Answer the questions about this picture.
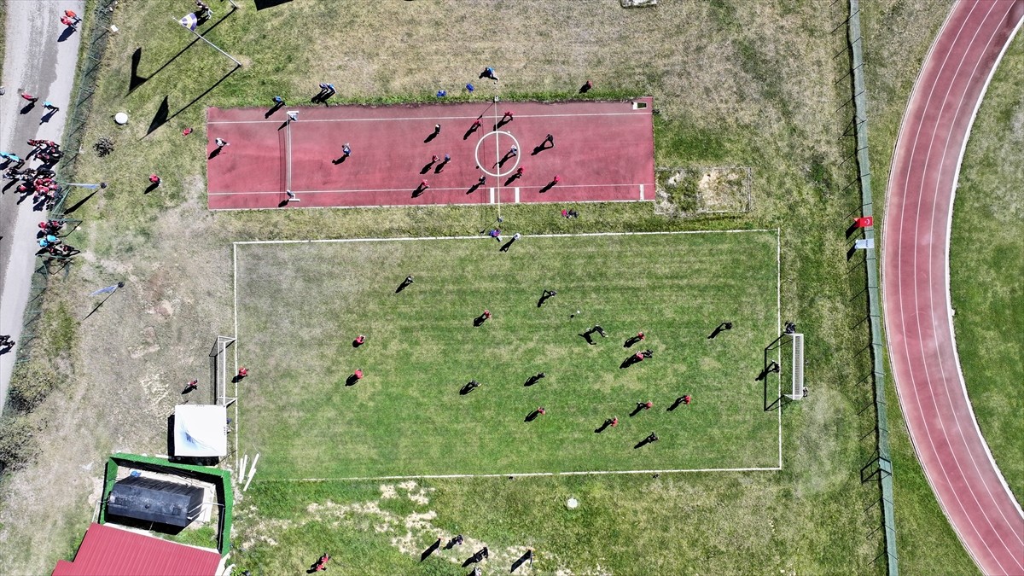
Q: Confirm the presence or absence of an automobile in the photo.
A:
No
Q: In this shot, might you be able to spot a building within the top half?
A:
No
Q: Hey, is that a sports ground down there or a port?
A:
sports ground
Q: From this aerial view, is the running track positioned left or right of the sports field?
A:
right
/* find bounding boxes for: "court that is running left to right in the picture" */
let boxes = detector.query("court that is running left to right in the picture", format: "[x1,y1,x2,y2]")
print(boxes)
[207,97,655,210]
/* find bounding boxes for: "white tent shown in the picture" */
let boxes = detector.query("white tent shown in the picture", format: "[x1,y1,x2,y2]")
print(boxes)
[174,401,237,457]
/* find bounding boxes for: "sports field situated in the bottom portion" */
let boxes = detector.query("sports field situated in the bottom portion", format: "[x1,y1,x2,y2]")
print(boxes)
[233,228,783,480]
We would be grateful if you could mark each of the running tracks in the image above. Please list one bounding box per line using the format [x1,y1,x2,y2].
[879,0,1024,576]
